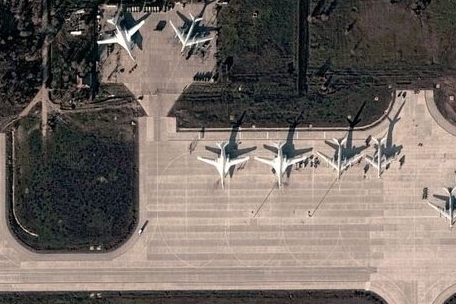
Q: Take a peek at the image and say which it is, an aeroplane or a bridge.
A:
aeroplane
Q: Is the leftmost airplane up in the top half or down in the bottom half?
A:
top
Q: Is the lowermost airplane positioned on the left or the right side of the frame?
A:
right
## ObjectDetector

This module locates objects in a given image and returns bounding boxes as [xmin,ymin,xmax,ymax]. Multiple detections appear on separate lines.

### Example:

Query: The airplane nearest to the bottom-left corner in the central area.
[197,139,249,188]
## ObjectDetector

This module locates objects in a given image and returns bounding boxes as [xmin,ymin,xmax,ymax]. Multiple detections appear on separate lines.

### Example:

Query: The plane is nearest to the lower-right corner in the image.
[427,184,456,228]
